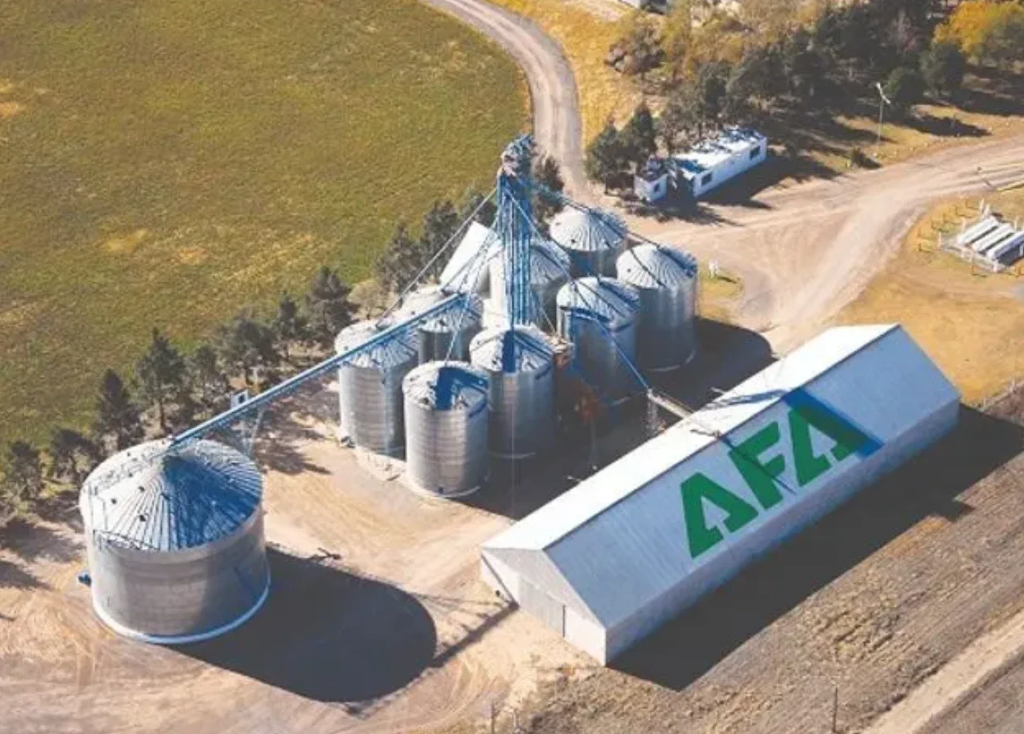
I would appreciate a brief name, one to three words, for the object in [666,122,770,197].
house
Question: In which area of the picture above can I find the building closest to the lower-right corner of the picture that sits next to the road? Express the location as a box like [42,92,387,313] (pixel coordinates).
[479,326,960,666]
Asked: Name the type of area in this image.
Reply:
industrial area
